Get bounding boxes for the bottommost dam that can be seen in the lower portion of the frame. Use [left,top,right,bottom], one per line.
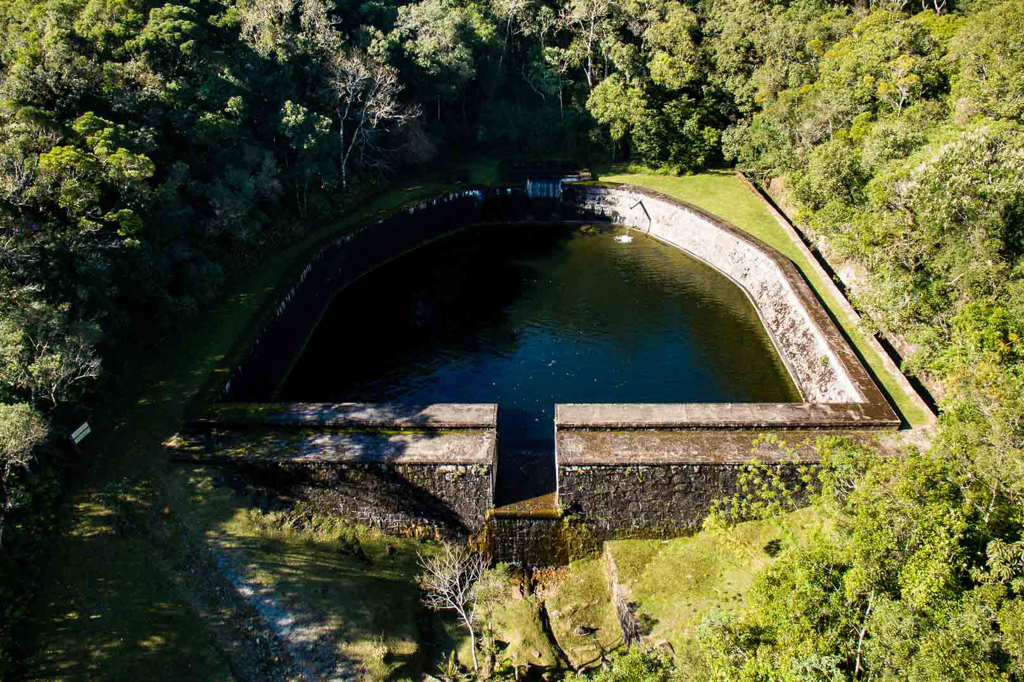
[141,402,973,576]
